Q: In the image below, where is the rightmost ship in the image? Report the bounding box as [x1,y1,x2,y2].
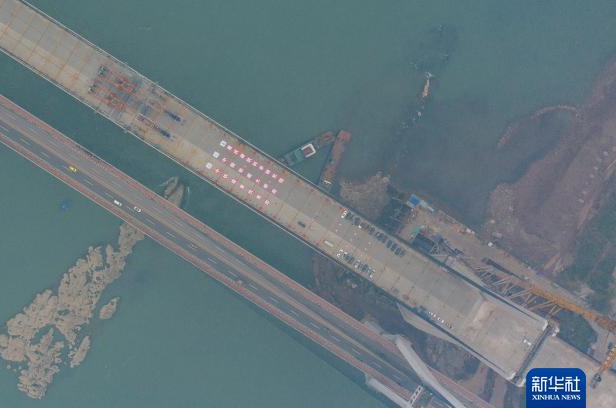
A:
[321,130,353,190]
